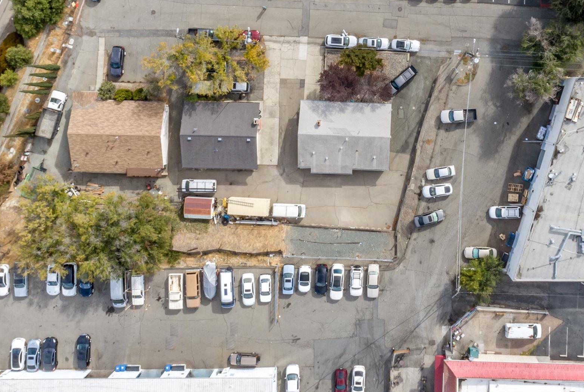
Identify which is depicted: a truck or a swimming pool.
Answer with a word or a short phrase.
truck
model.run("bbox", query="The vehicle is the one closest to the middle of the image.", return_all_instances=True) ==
[272,204,306,220]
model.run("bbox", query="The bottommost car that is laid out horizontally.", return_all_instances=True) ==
[229,352,260,367]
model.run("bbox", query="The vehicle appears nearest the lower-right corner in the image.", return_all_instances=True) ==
[504,324,541,339]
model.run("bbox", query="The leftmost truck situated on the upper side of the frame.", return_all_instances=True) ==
[30,90,66,143]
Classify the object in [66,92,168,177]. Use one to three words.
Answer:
house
